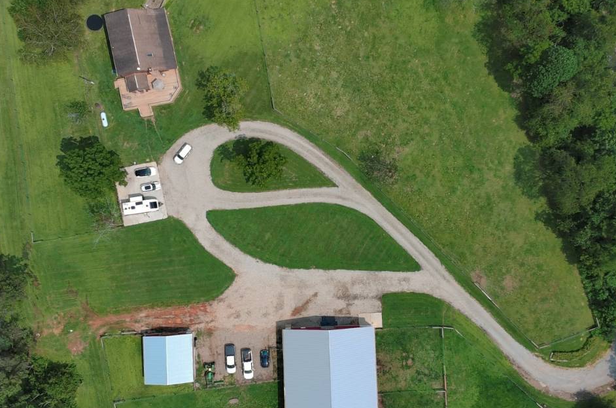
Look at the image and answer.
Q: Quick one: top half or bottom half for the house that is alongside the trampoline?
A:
top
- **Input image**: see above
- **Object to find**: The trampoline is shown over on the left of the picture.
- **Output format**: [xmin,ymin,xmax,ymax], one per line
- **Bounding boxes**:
[86,14,103,31]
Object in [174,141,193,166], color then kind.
white vehicle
